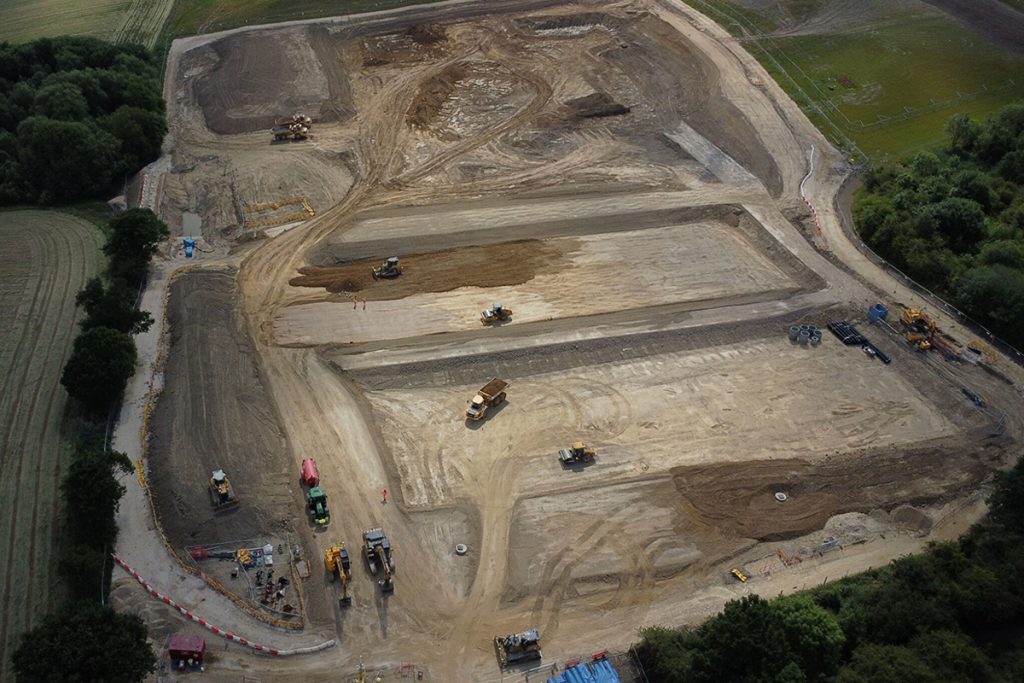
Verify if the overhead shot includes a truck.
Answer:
Yes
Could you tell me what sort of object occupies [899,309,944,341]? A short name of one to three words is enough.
work vehicle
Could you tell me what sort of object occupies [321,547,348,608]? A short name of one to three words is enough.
work vehicle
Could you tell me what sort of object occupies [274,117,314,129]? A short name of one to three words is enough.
vehicle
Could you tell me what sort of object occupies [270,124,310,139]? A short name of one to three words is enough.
vehicle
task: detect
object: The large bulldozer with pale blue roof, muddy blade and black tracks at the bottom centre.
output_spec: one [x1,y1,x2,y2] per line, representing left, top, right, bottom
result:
[486,631,542,677]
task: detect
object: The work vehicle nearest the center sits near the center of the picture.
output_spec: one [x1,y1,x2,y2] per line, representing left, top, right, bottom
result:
[481,302,513,322]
